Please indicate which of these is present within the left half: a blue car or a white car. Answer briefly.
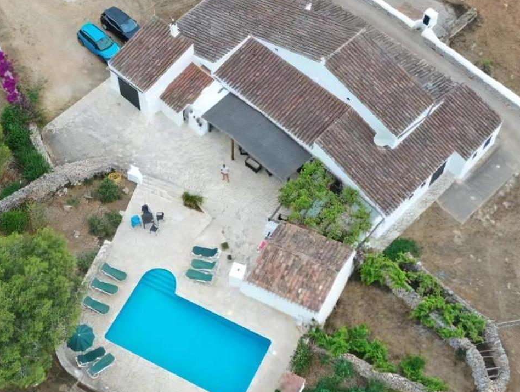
blue car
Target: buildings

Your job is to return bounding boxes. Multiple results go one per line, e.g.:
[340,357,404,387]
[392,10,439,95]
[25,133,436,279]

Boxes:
[108,0,502,241]
[246,222,355,323]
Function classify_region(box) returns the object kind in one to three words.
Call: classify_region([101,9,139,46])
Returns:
car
